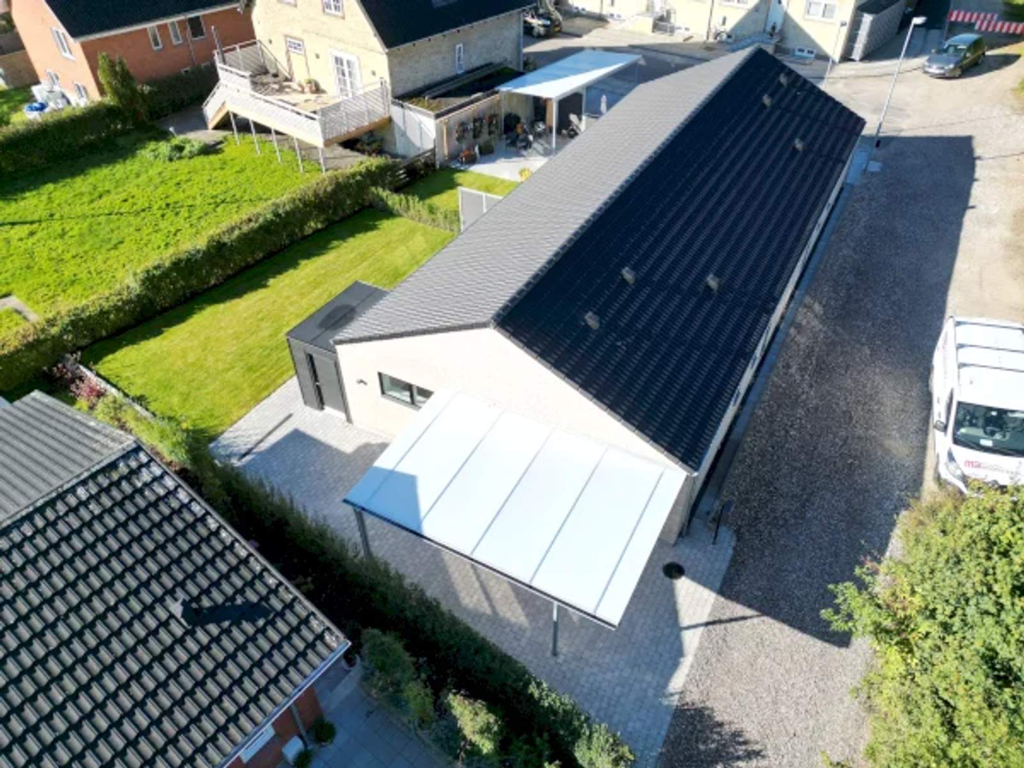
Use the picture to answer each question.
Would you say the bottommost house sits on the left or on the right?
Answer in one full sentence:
You can find the bottommost house on the left side of the picture.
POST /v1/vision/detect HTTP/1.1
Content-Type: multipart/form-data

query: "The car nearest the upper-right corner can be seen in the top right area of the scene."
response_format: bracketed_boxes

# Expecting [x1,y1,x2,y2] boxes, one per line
[929,30,988,75]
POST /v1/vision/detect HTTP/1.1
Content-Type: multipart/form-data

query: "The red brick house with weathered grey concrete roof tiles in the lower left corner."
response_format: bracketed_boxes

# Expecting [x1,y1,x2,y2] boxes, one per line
[0,392,350,768]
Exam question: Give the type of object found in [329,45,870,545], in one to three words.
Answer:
house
